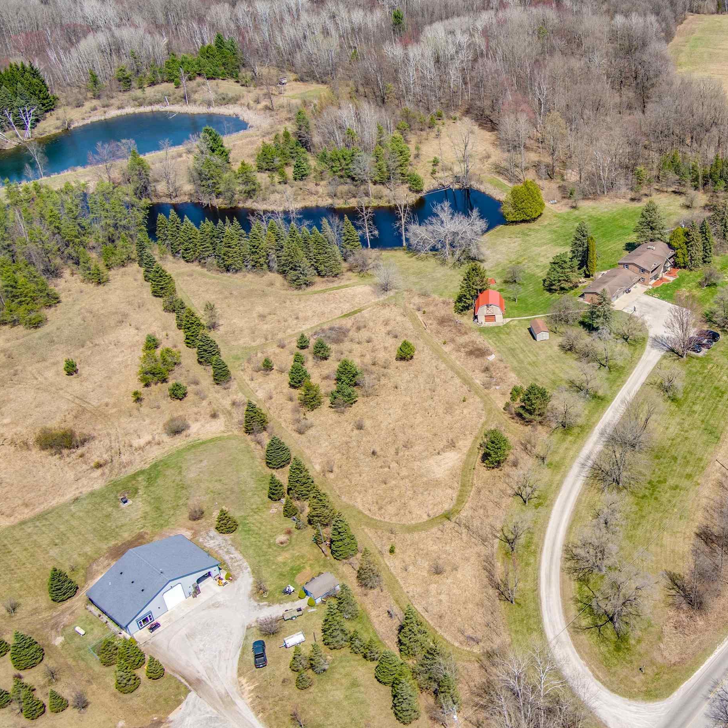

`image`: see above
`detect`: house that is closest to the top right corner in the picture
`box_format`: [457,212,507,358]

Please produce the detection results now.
[581,241,676,304]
